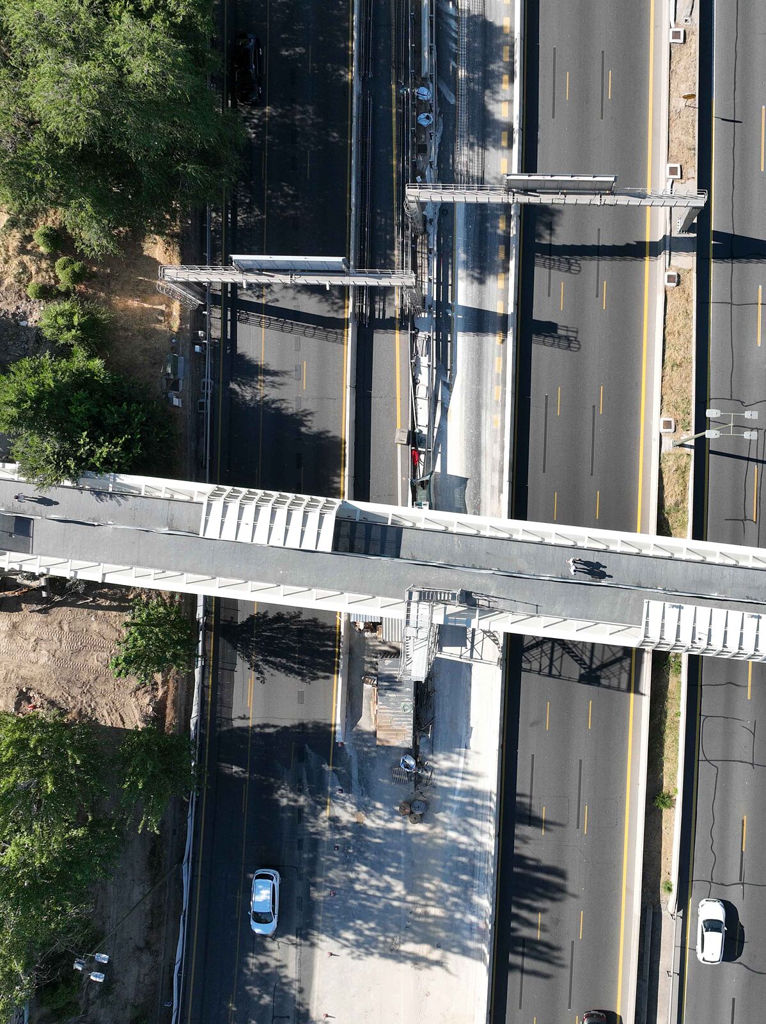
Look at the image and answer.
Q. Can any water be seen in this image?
No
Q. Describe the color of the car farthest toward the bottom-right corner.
white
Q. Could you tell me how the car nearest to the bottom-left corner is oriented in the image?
up and down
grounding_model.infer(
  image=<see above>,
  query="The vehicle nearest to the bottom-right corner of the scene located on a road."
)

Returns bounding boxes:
[695,897,729,964]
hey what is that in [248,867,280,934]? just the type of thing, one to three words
car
